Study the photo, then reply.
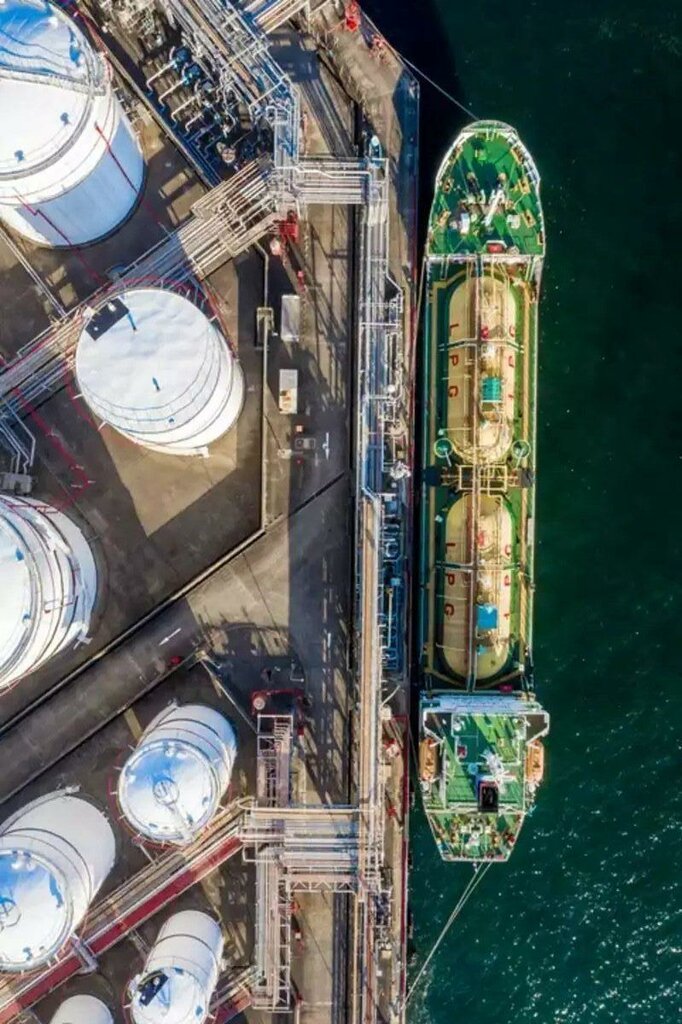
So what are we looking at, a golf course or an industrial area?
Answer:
industrial area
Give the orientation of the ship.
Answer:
from top to bottom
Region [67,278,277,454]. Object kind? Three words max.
storage tank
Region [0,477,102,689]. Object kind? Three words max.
storage tank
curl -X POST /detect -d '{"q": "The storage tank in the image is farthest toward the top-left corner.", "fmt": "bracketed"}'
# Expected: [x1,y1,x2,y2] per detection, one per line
[0,0,186,286]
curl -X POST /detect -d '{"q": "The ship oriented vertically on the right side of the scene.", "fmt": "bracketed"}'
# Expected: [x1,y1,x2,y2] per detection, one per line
[415,119,550,865]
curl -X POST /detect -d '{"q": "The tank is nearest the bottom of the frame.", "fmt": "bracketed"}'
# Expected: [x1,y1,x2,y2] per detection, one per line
[50,994,117,1024]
